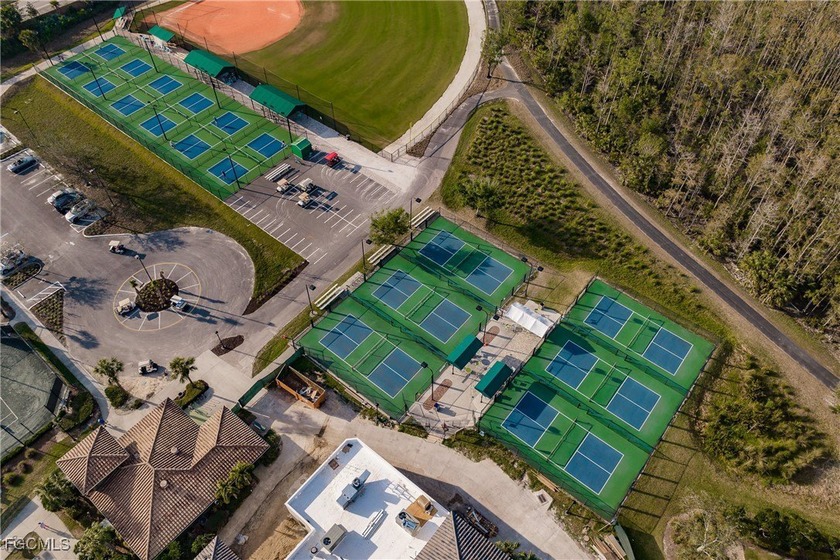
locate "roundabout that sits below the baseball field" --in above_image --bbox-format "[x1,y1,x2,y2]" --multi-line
[113,262,202,331]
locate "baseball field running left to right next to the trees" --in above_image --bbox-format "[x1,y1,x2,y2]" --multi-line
[91,0,486,160]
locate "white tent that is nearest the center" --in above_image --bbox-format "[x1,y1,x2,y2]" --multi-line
[503,294,559,346]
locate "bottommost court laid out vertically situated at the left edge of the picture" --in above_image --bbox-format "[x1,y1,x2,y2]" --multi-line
[0,313,60,461]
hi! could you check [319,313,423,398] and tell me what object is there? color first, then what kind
blue sports court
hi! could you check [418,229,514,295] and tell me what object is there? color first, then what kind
blue sports court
